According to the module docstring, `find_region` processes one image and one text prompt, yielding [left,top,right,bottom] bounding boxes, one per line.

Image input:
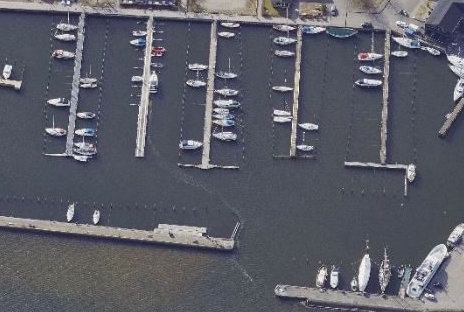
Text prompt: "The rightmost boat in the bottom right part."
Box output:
[445,223,463,246]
